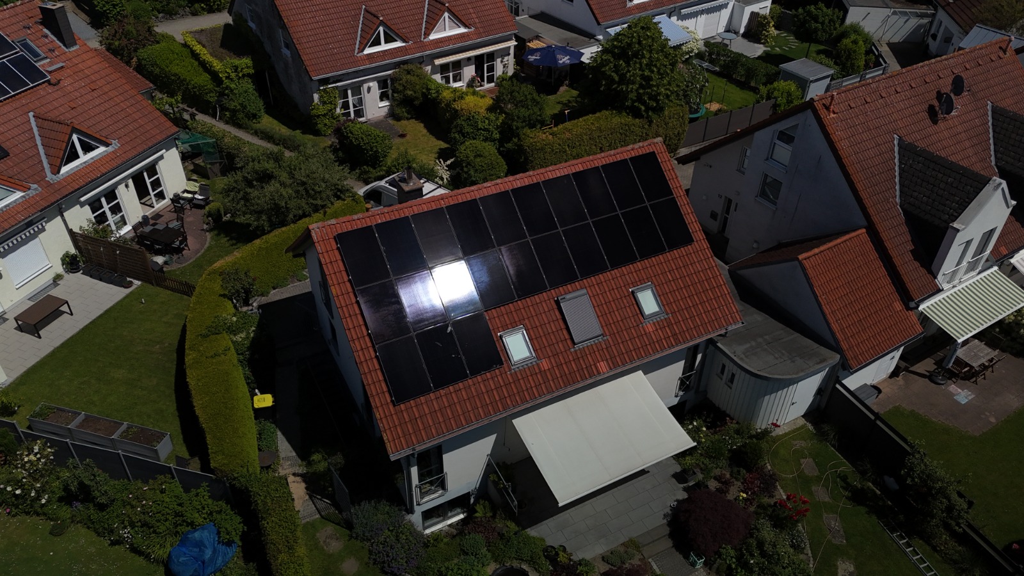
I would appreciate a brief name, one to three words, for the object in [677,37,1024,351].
house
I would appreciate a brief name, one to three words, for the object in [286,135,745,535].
house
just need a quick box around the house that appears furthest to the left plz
[0,0,194,311]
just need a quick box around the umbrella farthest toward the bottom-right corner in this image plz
[924,327,958,387]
